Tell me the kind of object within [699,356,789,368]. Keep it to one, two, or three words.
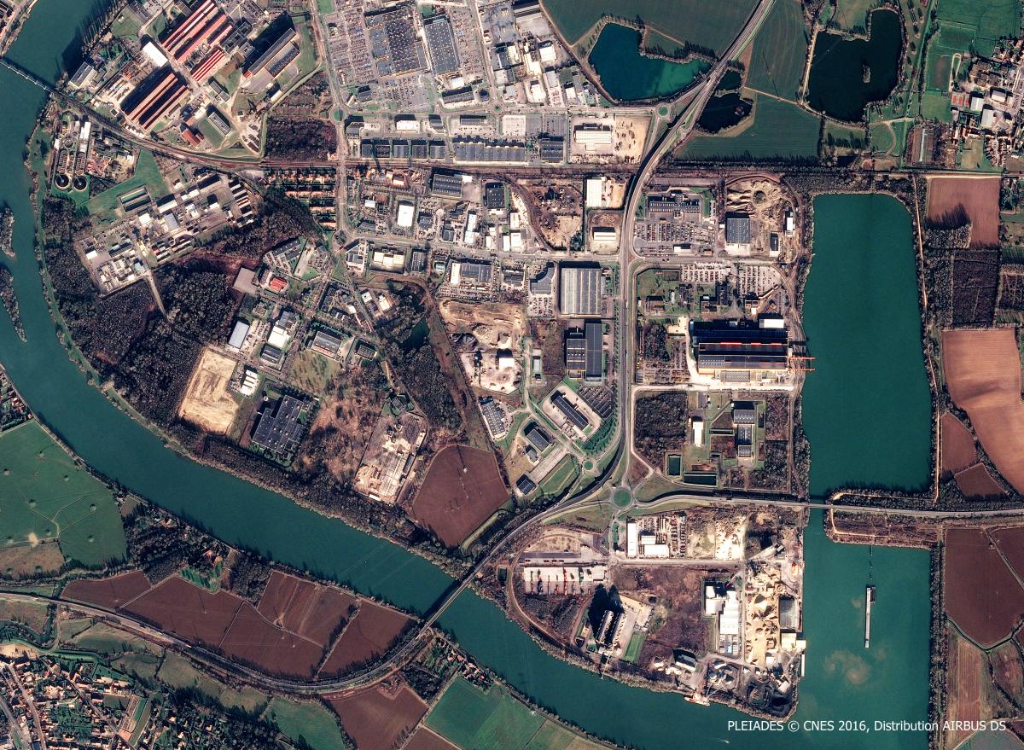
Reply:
building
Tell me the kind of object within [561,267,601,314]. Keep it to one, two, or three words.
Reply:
building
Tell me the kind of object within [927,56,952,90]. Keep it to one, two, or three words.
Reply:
soccer field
